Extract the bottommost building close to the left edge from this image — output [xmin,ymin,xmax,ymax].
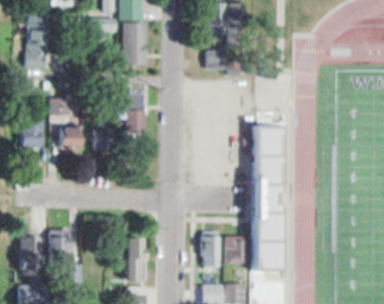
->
[18,284,48,304]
